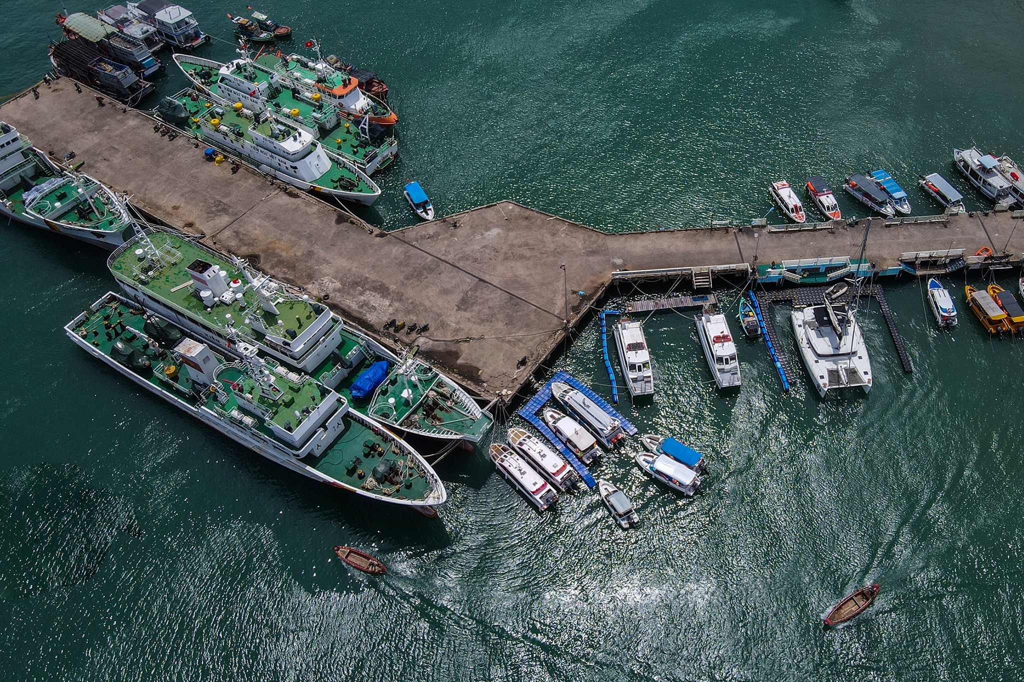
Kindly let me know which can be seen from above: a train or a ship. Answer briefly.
ship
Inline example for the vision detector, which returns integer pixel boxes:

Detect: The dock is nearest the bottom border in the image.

[519,373,639,490]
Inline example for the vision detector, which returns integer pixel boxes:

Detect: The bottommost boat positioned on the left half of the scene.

[333,546,403,582]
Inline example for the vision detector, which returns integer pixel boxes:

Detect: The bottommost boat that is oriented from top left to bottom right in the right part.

[598,482,640,533]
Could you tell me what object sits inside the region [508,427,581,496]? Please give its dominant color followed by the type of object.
white boat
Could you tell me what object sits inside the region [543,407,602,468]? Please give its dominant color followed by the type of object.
white boat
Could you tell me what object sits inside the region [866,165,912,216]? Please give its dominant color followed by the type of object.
blue boat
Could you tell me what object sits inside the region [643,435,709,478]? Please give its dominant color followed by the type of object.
blue boat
